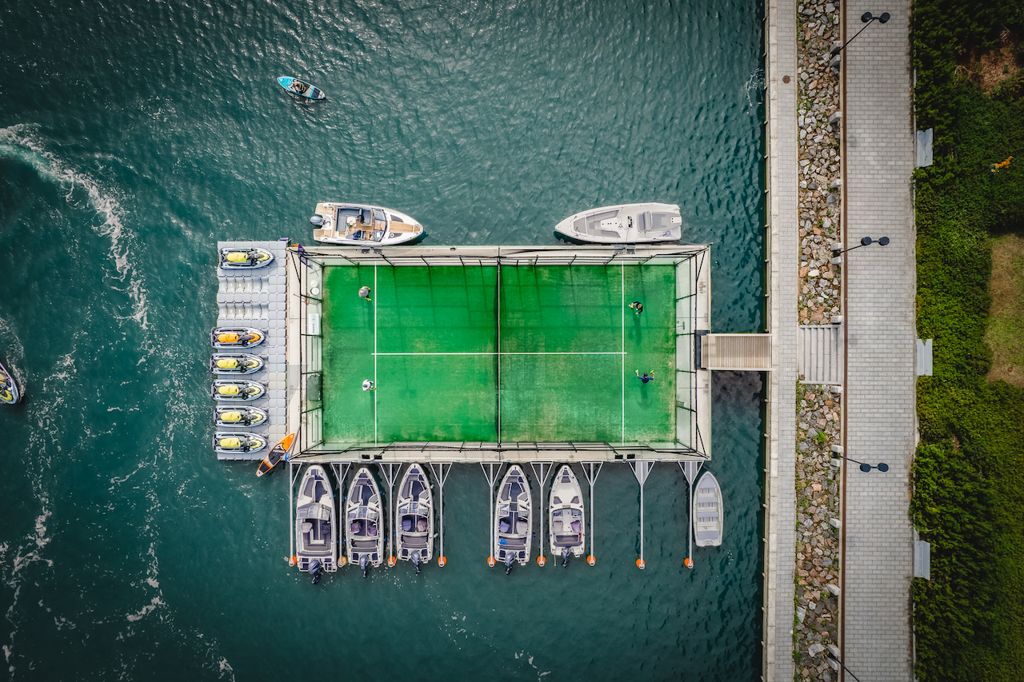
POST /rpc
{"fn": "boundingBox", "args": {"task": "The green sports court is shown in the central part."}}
[288,249,708,459]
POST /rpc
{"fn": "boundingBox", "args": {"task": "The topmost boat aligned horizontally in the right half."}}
[554,202,681,244]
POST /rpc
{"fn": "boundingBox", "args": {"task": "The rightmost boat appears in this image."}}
[692,471,723,547]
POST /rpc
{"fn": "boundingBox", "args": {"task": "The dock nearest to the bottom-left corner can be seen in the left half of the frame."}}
[218,241,290,459]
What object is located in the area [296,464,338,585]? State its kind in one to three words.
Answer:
boat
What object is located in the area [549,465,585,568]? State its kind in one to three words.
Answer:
boat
